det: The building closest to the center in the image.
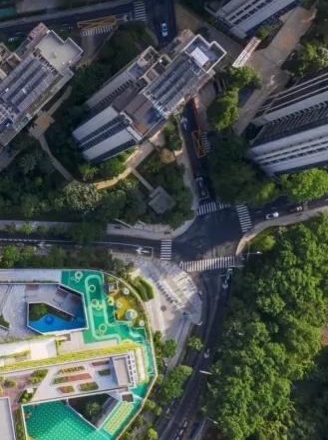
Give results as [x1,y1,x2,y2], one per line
[145,186,175,214]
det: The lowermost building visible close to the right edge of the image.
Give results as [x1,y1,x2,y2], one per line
[251,63,328,173]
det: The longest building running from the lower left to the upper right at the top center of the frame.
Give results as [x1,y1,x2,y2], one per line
[67,30,227,165]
